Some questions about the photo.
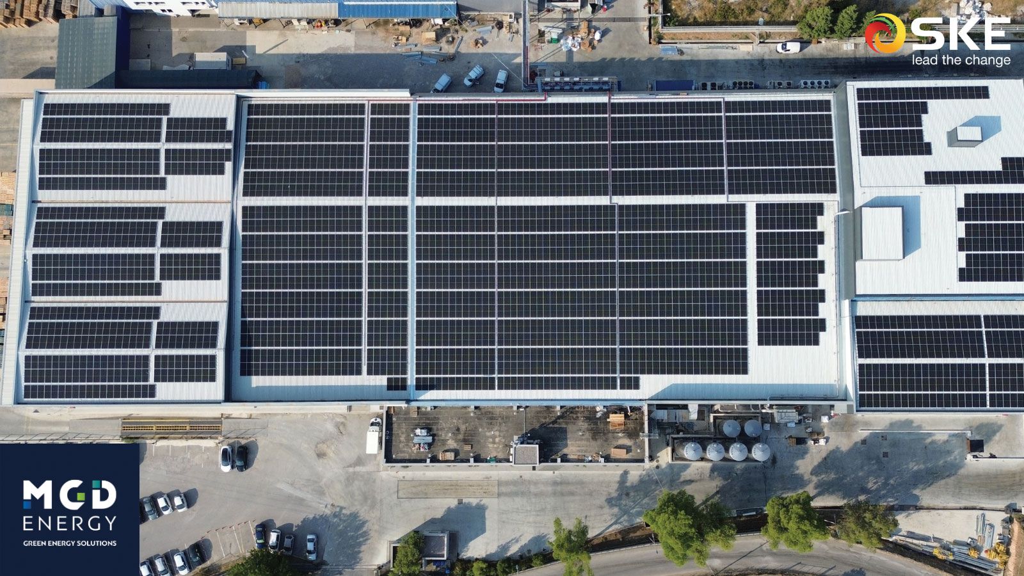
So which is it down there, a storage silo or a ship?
storage silo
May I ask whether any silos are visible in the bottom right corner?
Yes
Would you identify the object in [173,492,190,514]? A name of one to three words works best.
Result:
car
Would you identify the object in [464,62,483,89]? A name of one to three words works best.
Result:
vehicle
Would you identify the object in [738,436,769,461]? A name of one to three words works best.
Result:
silo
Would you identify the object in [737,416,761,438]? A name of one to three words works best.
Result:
silo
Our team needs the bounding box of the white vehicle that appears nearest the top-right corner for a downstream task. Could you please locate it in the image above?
[775,40,802,54]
